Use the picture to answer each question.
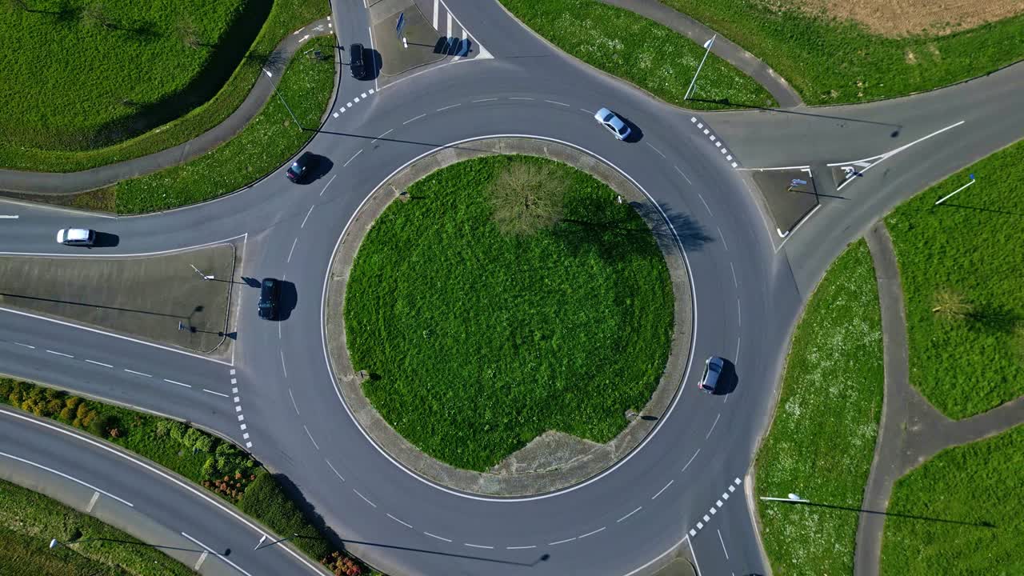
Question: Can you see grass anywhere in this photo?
Yes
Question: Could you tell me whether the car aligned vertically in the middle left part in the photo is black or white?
black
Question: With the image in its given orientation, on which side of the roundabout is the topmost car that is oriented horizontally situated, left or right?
on its left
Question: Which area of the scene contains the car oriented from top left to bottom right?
top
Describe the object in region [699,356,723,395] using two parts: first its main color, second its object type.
blue car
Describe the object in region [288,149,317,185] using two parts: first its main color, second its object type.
black car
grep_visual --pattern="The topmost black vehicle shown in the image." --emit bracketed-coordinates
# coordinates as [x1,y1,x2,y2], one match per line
[349,43,367,80]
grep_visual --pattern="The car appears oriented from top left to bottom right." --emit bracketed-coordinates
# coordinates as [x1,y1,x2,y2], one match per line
[595,109,632,141]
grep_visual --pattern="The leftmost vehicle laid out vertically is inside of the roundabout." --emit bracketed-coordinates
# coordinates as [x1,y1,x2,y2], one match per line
[258,278,280,320]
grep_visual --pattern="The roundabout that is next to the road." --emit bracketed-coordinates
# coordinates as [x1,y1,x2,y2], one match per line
[213,46,804,576]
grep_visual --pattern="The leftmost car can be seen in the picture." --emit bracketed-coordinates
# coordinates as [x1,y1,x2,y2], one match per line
[57,227,99,247]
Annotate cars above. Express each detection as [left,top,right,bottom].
[57,227,99,247]
[349,43,367,80]
[699,356,723,395]
[288,149,317,185]
[595,109,632,141]
[258,278,280,320]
